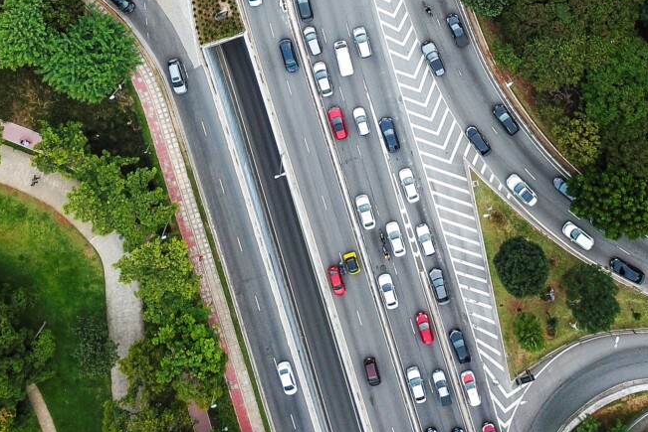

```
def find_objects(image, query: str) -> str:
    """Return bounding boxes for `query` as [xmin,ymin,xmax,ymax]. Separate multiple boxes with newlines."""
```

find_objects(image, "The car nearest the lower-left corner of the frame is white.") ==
[277,360,298,395]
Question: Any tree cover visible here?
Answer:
Yes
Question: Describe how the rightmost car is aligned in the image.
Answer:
diagonally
